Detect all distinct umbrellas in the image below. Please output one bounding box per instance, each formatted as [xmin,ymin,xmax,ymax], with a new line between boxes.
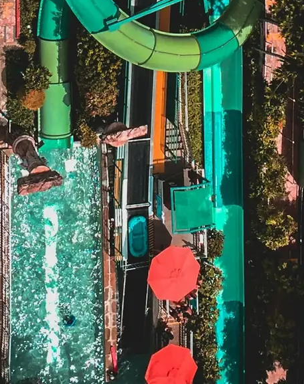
[142,319,197,384]
[145,231,199,299]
